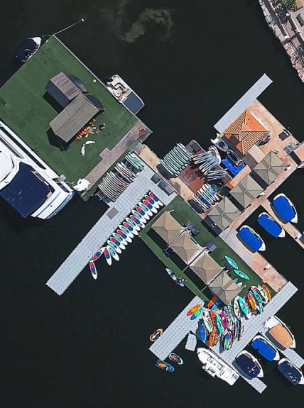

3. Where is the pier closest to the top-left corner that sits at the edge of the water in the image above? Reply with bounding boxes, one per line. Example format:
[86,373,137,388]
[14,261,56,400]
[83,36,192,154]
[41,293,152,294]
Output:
[0,34,153,201]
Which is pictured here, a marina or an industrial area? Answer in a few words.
marina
